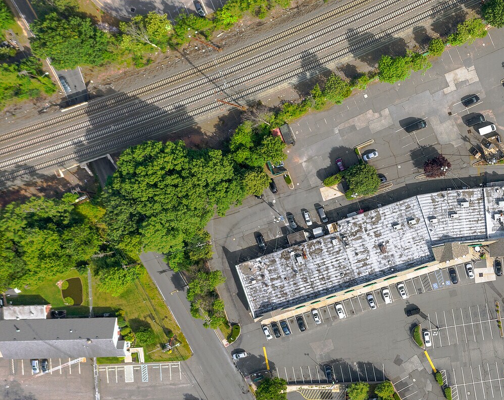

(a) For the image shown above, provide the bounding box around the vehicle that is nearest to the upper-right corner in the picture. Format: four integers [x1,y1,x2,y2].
[463,94,481,107]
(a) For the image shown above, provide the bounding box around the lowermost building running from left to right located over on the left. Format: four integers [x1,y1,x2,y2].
[0,317,133,358]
